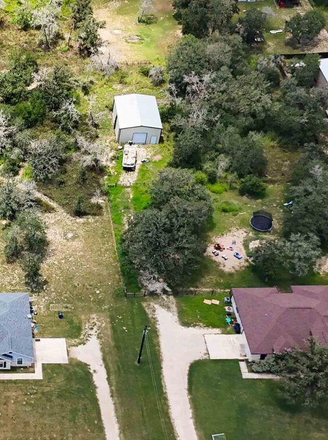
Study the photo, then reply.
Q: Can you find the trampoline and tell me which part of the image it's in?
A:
right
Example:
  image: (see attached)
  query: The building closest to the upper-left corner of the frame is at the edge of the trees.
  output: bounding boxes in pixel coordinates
[113,92,162,144]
